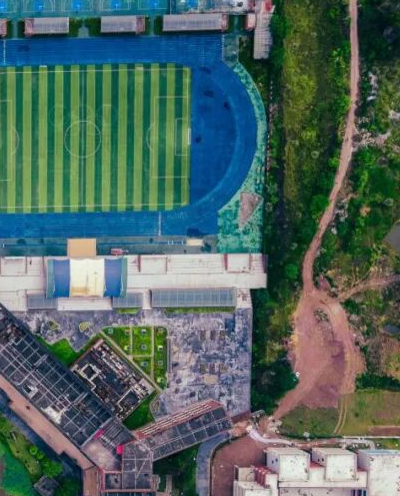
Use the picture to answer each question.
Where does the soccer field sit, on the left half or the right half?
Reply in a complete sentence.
The soccer field sits on the left side.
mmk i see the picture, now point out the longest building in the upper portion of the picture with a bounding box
[250,7,273,61]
